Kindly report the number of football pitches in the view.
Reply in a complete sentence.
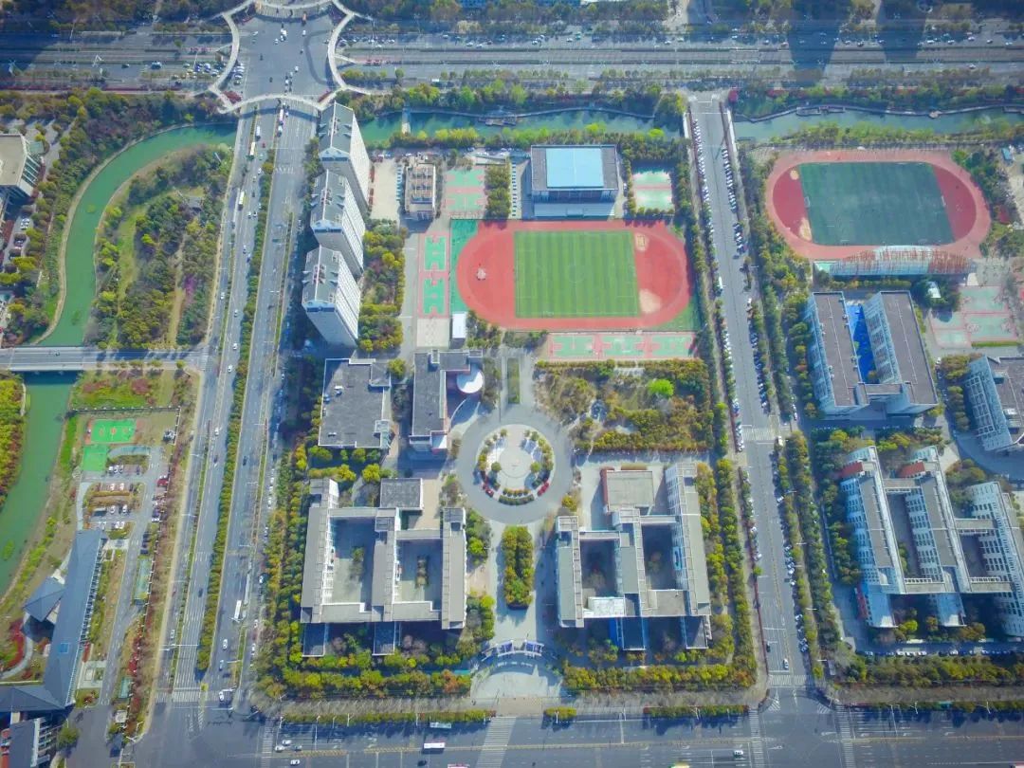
My tally gives 2 football pitches in this view.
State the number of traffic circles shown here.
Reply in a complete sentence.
In total, there is 1 traffic circle in the scene.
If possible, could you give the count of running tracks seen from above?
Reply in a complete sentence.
There are 2 running tracks in the image.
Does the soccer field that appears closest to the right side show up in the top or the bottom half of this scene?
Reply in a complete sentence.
The soccer field that appears closest to the right side sits in the top half of the picture.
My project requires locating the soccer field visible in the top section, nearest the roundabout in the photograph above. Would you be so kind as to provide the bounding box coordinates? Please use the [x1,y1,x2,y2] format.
[514,230,641,316]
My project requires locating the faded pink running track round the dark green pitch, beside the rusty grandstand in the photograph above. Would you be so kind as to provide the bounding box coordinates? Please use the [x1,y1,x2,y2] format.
[765,149,990,272]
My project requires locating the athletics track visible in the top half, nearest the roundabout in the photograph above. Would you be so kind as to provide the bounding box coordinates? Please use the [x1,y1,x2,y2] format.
[449,219,700,331]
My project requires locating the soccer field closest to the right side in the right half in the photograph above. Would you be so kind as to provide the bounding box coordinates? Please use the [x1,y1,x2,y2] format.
[799,160,957,246]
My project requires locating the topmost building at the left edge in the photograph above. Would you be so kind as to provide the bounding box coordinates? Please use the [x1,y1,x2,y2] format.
[0,133,39,196]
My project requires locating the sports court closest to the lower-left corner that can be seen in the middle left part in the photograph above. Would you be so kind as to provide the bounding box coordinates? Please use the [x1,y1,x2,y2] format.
[81,446,108,470]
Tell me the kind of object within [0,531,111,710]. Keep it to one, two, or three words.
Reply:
building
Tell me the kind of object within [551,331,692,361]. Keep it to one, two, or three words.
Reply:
basketball court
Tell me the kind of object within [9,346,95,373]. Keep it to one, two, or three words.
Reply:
bridge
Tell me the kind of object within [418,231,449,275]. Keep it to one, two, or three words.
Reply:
basketball court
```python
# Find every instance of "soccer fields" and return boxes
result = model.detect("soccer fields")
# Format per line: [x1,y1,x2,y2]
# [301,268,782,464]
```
[799,160,957,246]
[514,230,641,316]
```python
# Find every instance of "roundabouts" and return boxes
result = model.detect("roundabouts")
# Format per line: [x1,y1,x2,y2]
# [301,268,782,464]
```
[474,425,555,505]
